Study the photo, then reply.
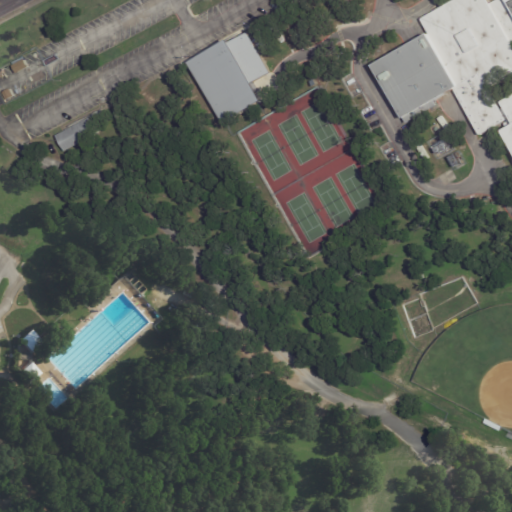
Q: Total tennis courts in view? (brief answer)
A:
6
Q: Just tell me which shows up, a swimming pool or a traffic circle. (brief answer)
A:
swimming pool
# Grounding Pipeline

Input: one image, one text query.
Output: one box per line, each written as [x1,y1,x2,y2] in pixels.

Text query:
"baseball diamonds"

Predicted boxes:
[411,304,512,432]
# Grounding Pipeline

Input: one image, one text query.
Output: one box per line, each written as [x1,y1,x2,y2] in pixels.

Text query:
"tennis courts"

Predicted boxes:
[292,86,351,164]
[268,102,327,178]
[327,150,386,224]
[274,178,335,254]
[302,164,361,236]
[238,116,303,194]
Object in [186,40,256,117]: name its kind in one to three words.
building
